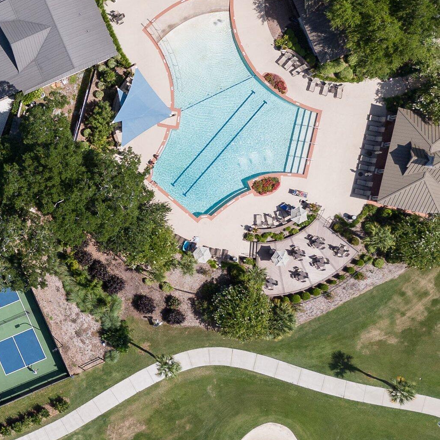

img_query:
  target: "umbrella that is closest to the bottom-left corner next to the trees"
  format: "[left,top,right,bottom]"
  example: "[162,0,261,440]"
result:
[191,246,211,264]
